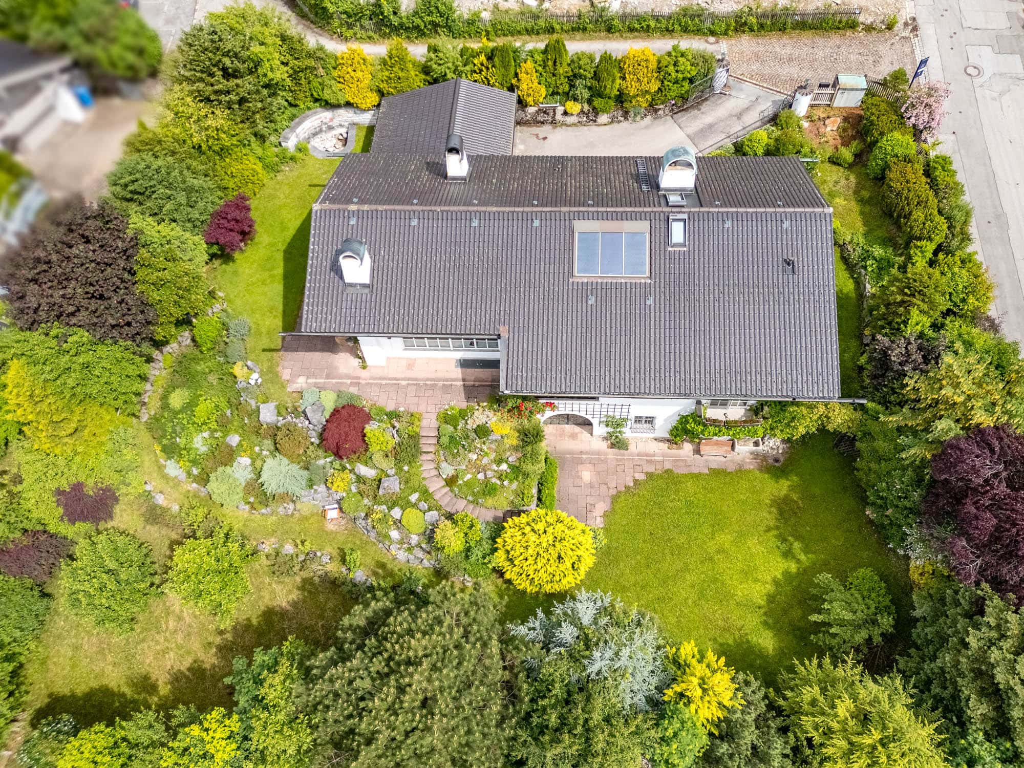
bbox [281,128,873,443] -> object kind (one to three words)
house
